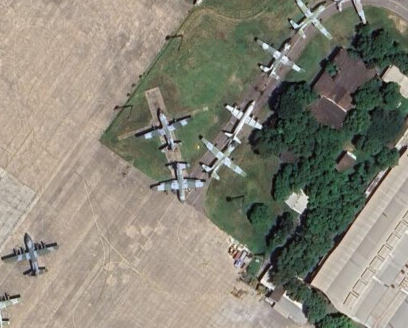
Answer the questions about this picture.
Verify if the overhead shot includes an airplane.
Yes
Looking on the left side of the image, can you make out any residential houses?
No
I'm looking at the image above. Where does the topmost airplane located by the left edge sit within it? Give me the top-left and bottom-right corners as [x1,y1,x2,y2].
[4,237,56,282]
